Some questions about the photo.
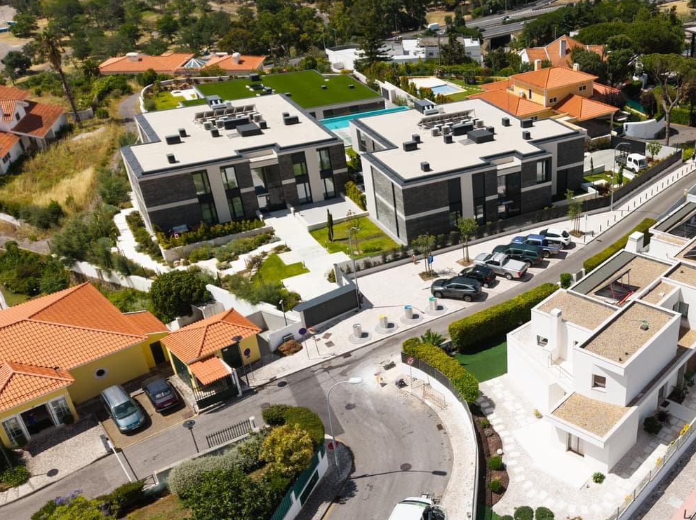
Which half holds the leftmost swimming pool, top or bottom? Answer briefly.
top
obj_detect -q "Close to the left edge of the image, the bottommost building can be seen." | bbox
[0,279,170,455]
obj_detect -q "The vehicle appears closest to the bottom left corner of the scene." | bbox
[98,377,147,430]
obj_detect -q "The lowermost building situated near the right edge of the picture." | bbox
[506,249,696,470]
